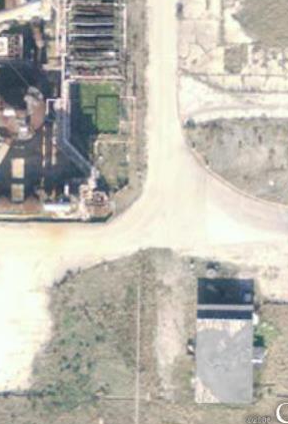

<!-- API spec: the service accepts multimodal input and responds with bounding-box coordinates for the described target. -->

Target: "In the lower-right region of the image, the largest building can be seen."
[198,320,256,405]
